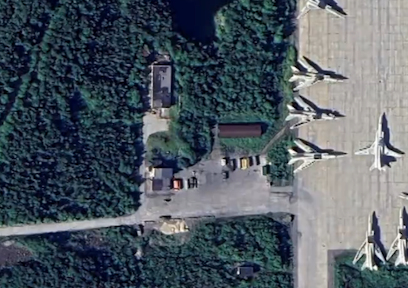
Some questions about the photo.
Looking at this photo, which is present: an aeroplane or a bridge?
aeroplane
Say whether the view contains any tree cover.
Yes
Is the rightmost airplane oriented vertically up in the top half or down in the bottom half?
bottom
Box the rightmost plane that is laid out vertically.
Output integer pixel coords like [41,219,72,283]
[388,209,408,265]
